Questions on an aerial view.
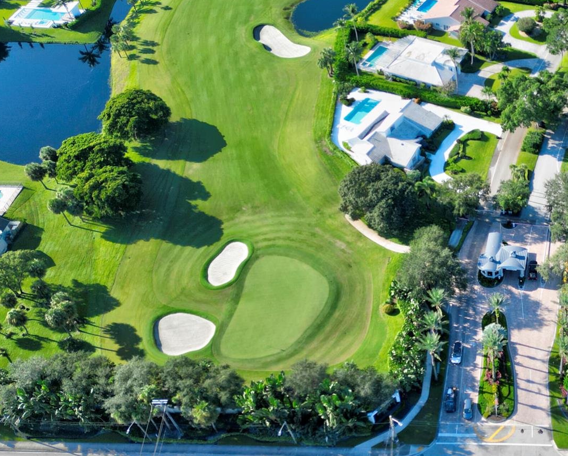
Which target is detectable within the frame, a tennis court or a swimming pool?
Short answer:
swimming pool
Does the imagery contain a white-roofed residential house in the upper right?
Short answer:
Yes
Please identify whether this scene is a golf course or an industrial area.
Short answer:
golf course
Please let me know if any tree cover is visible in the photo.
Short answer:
Yes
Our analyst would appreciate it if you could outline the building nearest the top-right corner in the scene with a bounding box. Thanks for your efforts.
[424,0,500,40]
